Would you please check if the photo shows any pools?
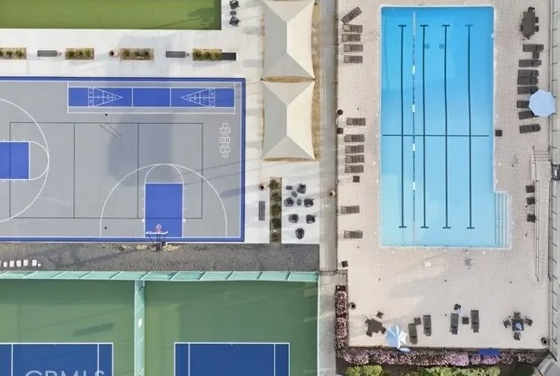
Yes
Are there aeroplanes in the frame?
No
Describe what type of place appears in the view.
sports ground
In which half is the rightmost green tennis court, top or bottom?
bottom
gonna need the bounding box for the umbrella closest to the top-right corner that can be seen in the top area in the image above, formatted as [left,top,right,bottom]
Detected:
[528,90,555,116]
